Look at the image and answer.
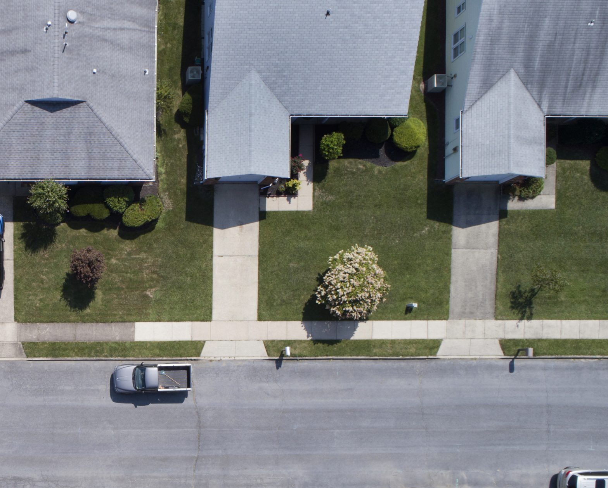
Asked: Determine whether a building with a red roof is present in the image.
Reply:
No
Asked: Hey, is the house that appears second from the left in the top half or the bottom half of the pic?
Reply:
top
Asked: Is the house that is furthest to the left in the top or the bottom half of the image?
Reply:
top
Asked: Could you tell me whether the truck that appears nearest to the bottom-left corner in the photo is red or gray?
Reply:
gray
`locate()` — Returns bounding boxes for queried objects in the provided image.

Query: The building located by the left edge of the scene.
[0,0,155,185]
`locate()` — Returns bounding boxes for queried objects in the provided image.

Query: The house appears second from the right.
[195,0,424,195]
